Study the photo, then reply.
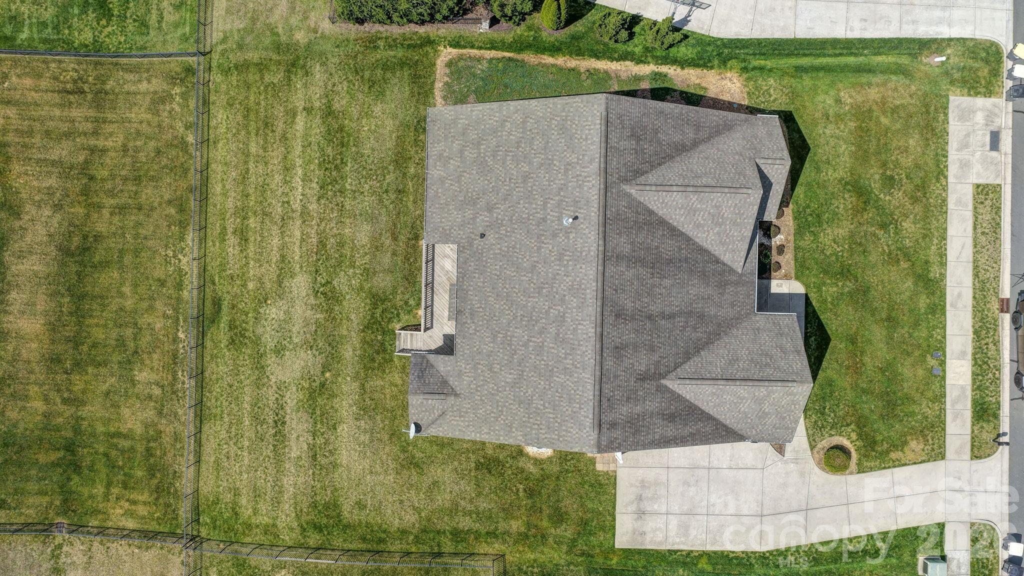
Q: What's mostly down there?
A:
grass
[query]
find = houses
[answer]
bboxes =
[408,94,813,462]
